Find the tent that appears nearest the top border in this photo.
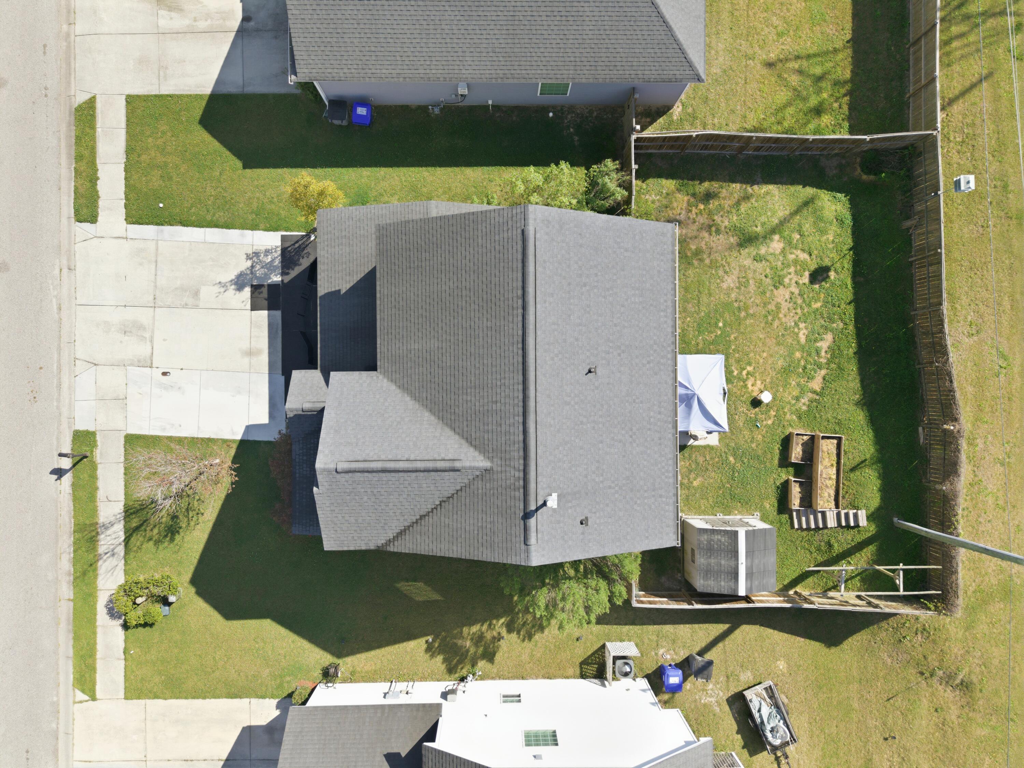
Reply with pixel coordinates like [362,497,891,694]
[681,354,728,432]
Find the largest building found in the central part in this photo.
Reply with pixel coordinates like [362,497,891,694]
[286,199,683,564]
